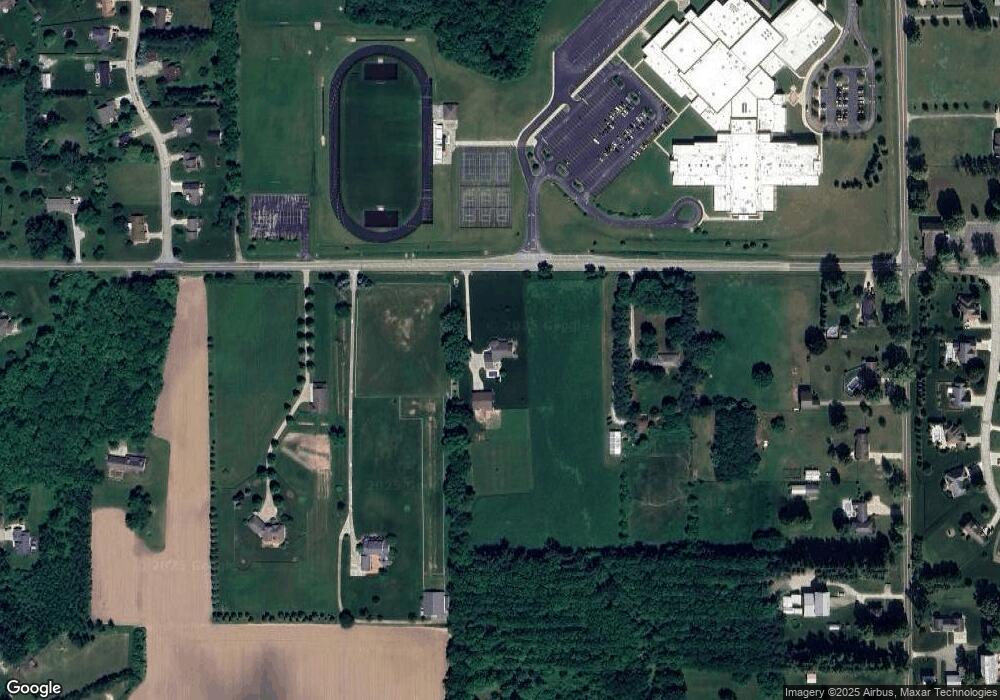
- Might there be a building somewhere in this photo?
Yes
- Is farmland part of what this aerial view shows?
Yes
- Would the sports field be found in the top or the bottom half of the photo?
top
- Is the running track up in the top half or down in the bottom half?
top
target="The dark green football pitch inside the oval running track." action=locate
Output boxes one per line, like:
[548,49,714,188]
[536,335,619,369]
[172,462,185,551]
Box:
[341,57,420,229]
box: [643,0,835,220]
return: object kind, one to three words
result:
building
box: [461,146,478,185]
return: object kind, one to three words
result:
tennis court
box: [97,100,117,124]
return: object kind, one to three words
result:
house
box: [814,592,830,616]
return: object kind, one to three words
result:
barn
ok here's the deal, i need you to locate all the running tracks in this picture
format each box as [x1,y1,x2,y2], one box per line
[329,45,433,242]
